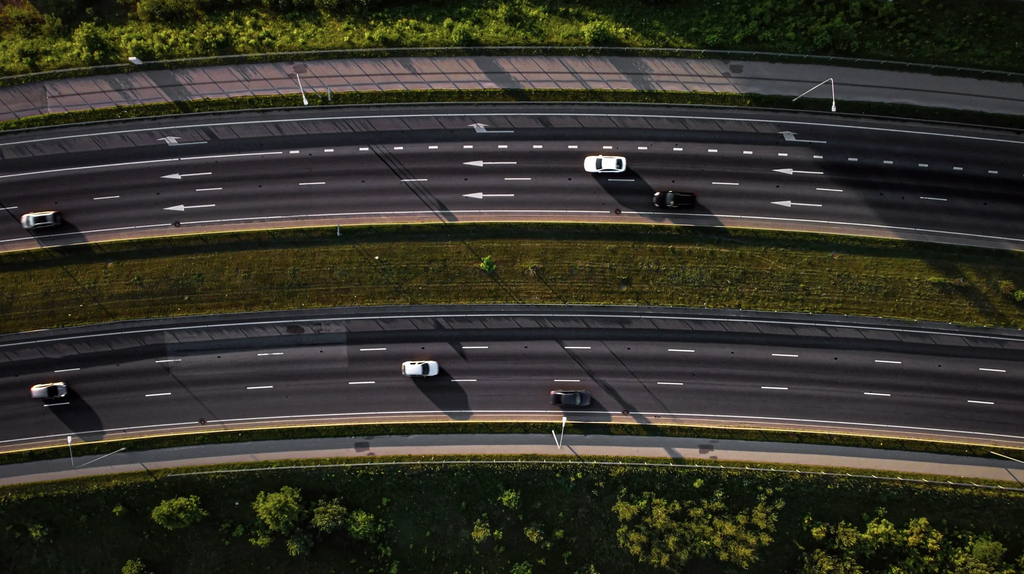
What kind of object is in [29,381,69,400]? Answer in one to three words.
car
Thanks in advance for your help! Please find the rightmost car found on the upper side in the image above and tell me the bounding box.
[584,154,626,173]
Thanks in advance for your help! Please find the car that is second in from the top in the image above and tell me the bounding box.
[23,211,63,230]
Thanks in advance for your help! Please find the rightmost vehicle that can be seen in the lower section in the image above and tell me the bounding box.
[550,389,591,408]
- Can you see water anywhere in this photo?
No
